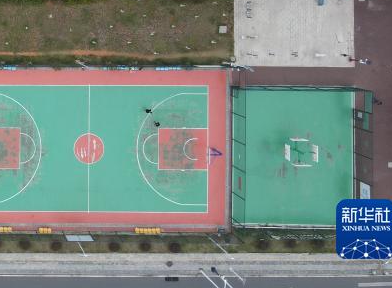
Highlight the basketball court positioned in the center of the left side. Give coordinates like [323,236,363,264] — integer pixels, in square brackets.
[0,85,208,213]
